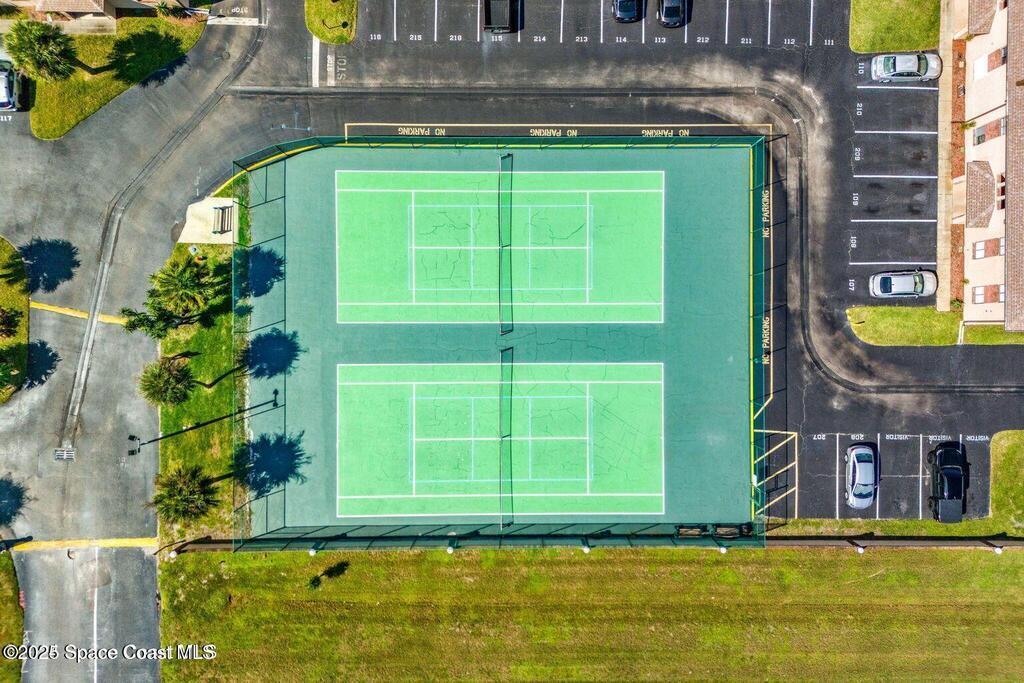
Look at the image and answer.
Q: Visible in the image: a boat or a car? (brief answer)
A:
car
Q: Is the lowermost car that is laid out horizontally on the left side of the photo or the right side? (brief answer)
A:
right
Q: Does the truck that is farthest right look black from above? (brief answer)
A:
Yes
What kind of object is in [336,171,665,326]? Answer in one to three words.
tennis court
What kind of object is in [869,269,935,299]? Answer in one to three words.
car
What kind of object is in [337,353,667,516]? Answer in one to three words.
tennis court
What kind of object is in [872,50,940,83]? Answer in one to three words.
car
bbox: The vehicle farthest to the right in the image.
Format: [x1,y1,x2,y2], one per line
[926,445,970,523]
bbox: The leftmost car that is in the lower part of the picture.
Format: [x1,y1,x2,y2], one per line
[843,445,877,509]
